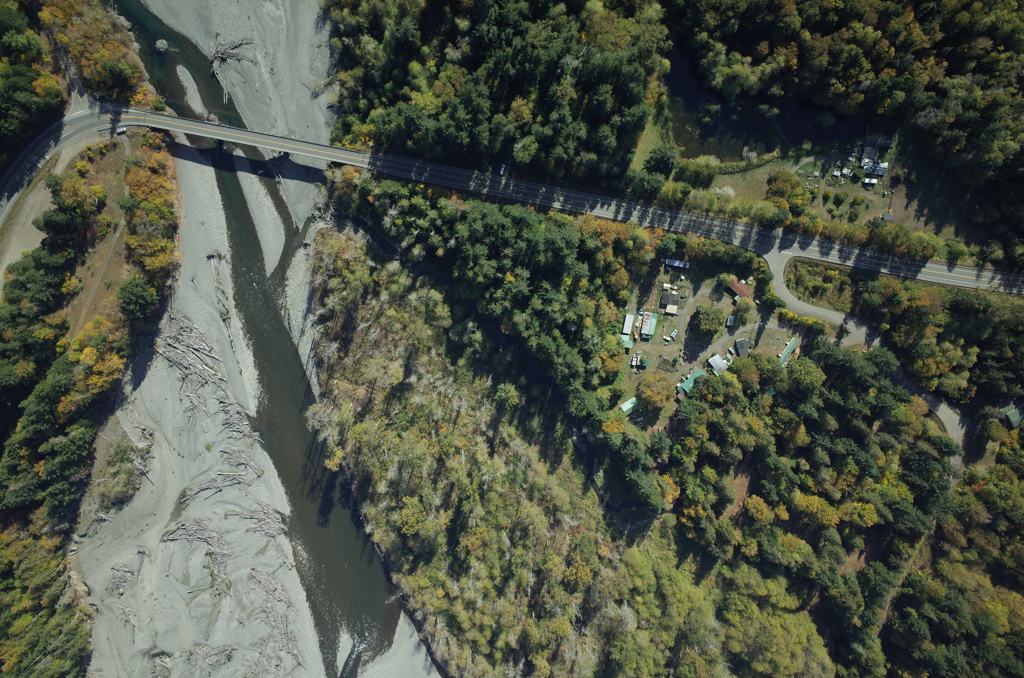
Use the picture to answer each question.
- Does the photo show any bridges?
Yes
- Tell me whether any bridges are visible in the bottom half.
No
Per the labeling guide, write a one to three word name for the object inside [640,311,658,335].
building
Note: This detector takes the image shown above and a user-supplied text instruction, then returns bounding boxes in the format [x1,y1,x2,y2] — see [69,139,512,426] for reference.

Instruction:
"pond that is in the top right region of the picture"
[665,44,867,161]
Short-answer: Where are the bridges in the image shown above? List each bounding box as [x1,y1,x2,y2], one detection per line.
[149,109,332,162]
